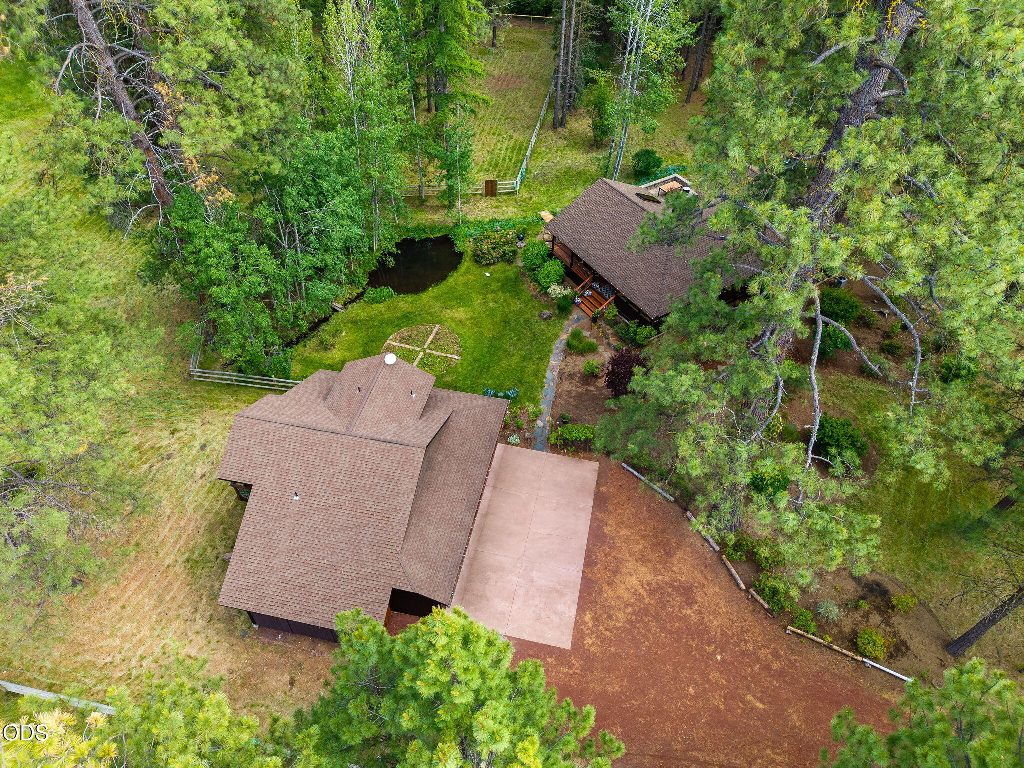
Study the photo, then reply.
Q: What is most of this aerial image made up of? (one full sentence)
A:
For the most part, this view shows trees.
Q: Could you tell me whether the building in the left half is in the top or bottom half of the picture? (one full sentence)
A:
The bottom half of the photo is where the building in the left half is.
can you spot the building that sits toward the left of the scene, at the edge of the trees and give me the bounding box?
[217,354,512,649]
